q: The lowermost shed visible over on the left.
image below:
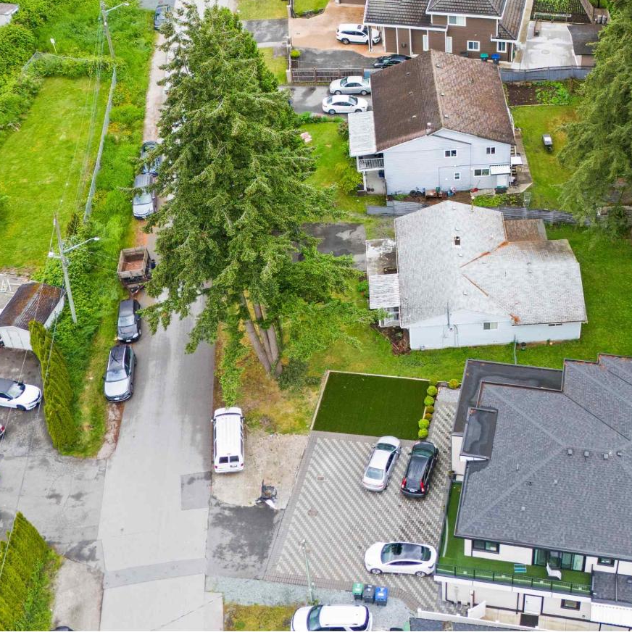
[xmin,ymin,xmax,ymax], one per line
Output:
[0,282,69,347]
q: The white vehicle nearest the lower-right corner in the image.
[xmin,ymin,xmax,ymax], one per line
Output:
[362,540,435,579]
